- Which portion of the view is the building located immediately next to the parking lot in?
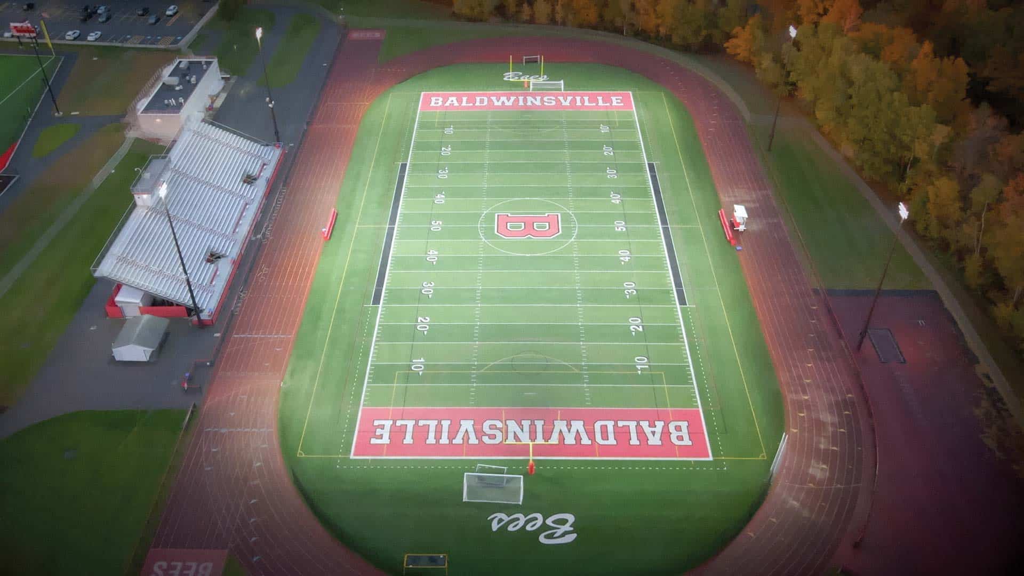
top left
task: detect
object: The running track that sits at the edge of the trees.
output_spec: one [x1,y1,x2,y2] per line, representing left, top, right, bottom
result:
[193,36,875,576]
